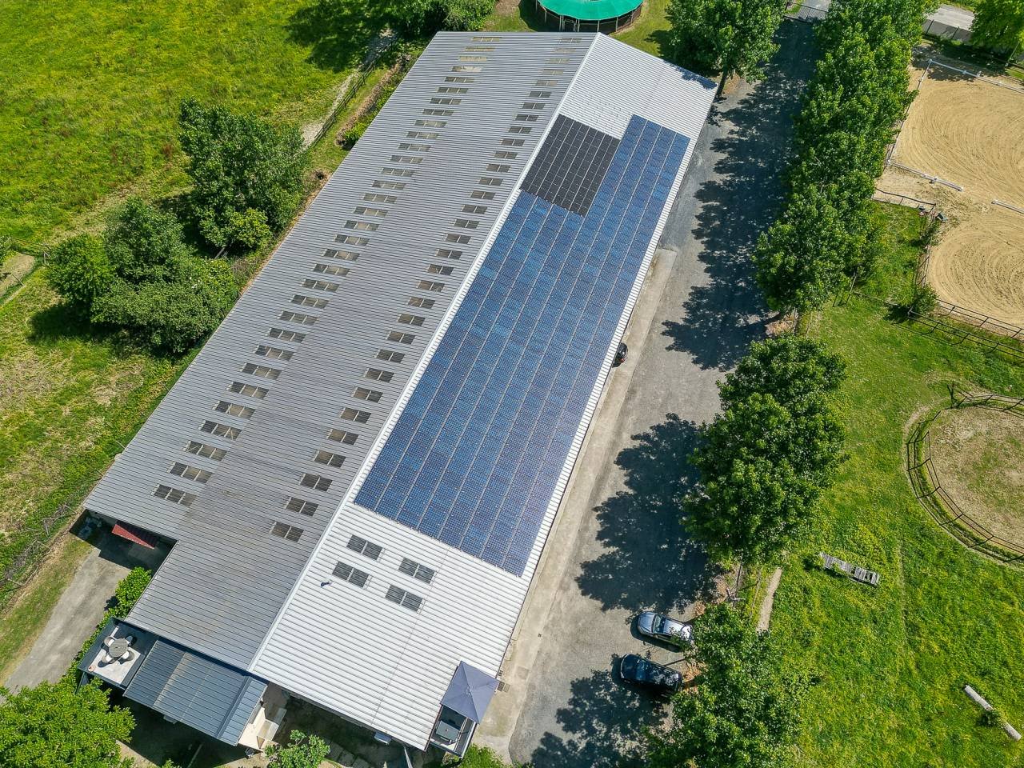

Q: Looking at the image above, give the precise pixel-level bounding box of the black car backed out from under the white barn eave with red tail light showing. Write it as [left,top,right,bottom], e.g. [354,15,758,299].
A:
[616,347,635,369]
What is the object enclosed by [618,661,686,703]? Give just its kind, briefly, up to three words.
car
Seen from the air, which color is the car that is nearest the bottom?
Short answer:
black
